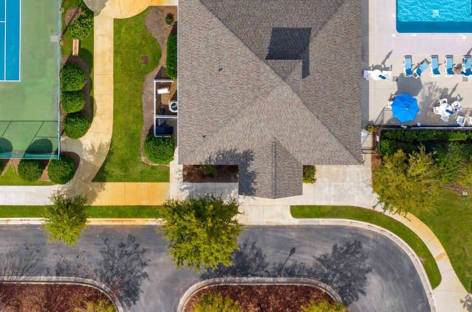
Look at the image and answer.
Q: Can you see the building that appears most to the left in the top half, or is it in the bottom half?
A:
top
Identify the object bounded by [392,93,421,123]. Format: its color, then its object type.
blue umbrella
